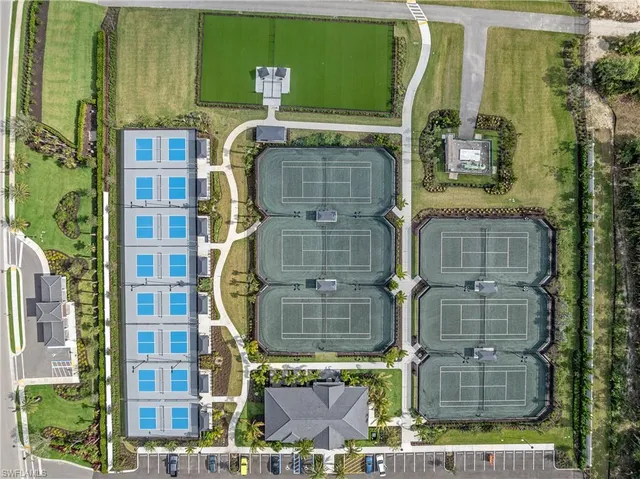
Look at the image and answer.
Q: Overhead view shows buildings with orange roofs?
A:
No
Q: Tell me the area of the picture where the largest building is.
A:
bottom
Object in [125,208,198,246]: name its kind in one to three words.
sports court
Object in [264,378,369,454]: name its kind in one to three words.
building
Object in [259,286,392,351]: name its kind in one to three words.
tennis court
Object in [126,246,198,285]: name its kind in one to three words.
sports court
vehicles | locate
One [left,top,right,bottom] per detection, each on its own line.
[169,455,178,478]
[376,455,385,476]
[208,455,216,474]
[271,456,279,475]
[366,456,374,475]
[239,456,248,476]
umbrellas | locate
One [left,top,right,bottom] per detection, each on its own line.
[258,67,269,84]
[276,68,286,84]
